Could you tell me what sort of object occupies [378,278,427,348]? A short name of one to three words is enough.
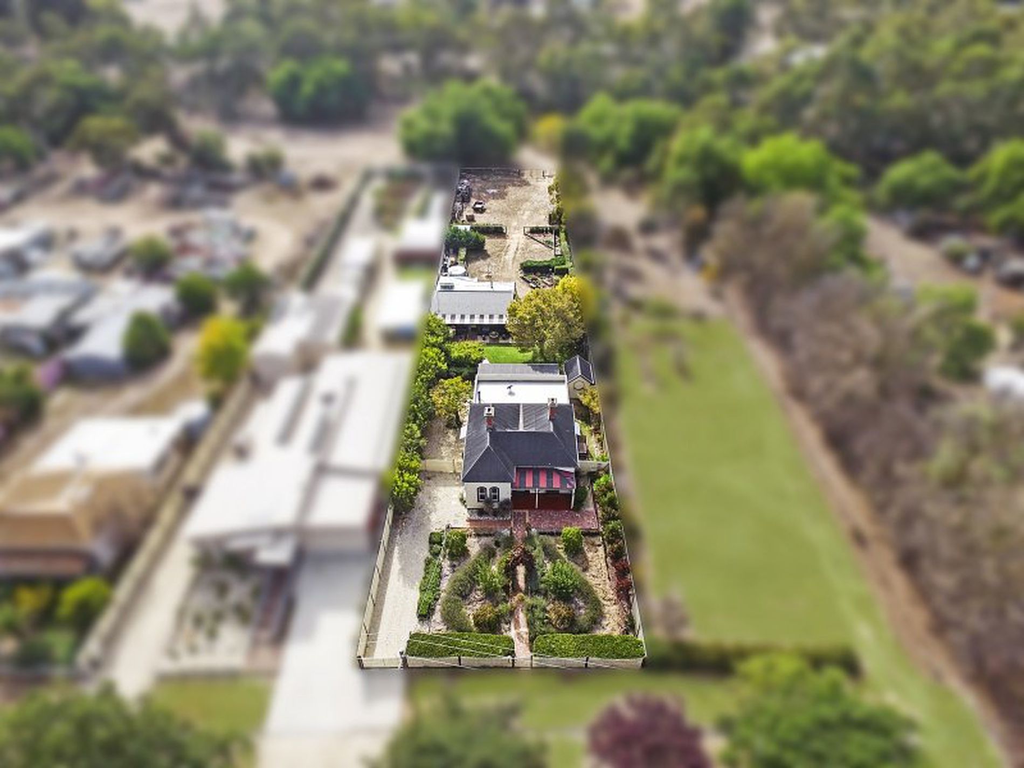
shed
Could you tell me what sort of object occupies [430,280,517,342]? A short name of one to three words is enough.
building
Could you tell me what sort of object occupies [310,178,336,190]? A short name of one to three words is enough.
vehicle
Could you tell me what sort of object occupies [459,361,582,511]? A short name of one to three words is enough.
house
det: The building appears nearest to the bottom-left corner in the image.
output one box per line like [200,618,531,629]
[0,409,190,592]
